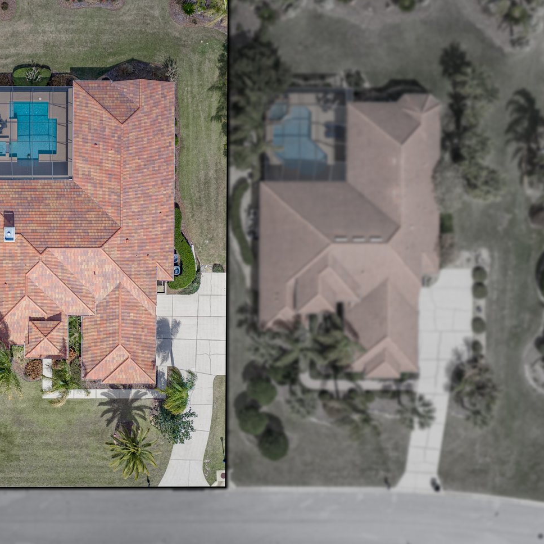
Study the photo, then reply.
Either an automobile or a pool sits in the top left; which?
pool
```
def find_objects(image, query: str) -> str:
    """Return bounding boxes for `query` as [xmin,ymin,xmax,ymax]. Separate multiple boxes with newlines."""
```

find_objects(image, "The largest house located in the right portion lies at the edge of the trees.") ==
[258,93,442,380]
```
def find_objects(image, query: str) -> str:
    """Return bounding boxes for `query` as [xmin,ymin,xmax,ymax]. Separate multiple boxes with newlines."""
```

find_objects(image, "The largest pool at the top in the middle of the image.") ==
[273,105,327,169]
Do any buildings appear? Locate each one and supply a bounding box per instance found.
[258,93,442,380]
[0,76,176,386]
